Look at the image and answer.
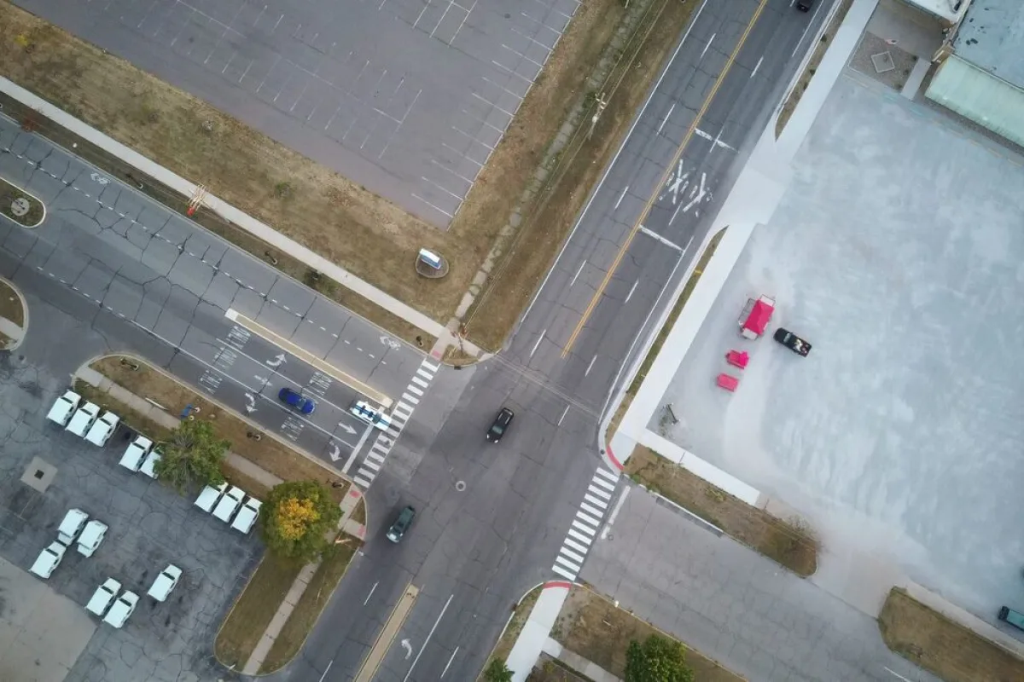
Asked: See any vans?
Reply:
Yes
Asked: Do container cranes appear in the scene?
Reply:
No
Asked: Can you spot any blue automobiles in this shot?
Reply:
Yes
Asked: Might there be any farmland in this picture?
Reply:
No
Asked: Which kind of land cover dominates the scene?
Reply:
paved ground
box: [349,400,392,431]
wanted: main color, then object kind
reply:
white car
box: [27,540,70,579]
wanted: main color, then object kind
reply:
white van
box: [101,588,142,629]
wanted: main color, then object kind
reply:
white van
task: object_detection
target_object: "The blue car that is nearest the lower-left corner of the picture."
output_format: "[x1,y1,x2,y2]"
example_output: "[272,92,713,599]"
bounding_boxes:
[277,386,316,413]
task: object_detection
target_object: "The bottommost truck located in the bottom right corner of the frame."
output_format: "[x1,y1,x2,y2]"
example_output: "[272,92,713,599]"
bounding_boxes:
[992,600,1024,632]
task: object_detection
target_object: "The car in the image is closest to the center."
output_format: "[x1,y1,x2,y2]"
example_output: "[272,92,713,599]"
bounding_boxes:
[487,406,515,444]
